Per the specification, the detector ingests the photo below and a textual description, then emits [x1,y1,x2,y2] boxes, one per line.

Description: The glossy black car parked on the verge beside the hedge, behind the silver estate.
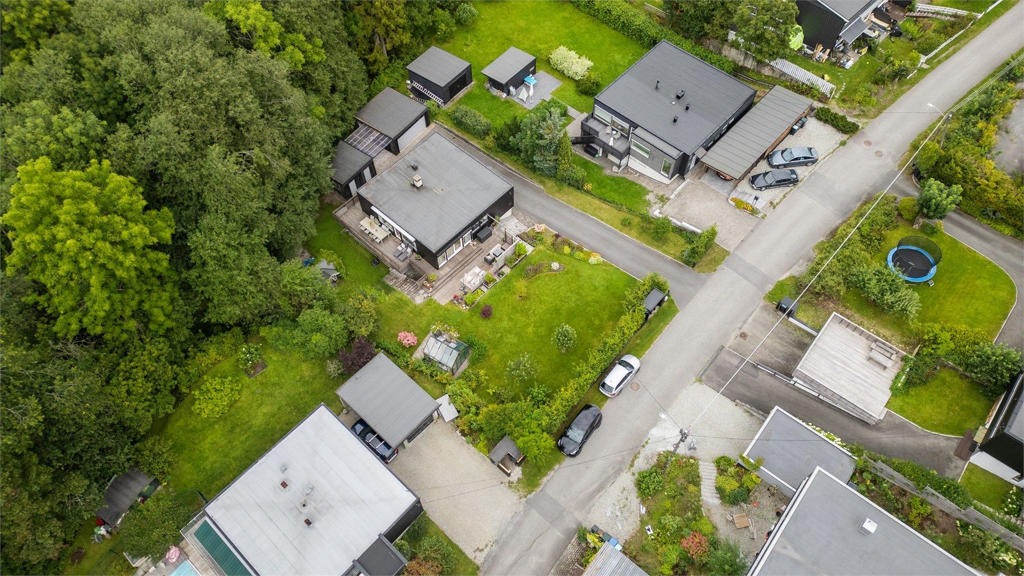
[558,399,605,459]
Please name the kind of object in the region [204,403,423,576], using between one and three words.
house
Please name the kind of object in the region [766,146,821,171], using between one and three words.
car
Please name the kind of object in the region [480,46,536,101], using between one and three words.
shed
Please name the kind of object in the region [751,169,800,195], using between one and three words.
car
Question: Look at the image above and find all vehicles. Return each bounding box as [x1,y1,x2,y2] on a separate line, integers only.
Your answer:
[350,420,405,469]
[597,352,642,401]
[766,146,821,171]
[751,169,800,195]
[558,399,605,459]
